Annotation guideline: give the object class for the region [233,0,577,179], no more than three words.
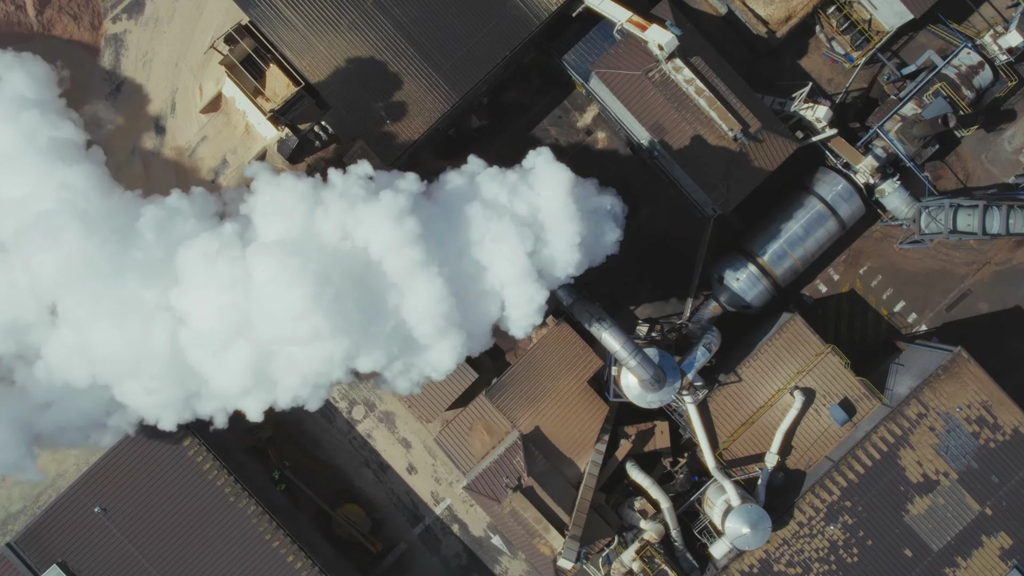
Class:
shed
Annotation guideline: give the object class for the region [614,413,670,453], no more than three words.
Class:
house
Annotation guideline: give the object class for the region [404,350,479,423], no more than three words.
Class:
building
